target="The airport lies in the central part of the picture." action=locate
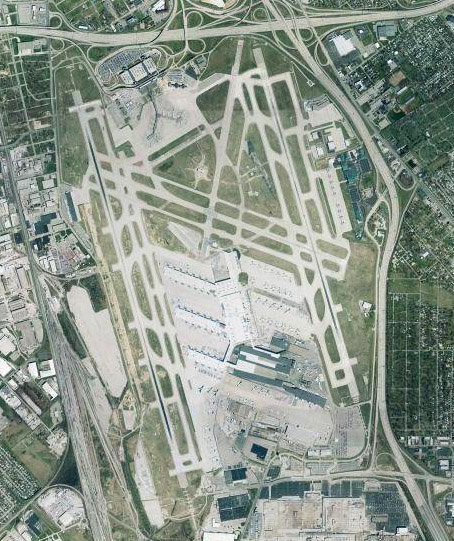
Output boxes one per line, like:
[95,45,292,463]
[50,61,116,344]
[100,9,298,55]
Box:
[66,41,362,488]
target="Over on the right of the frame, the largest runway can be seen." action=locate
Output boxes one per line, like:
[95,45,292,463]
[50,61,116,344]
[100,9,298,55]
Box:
[255,47,362,400]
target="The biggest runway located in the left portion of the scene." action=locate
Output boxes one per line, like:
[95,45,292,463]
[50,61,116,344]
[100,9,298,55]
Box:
[77,108,188,488]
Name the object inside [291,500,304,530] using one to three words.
building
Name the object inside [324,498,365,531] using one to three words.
building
